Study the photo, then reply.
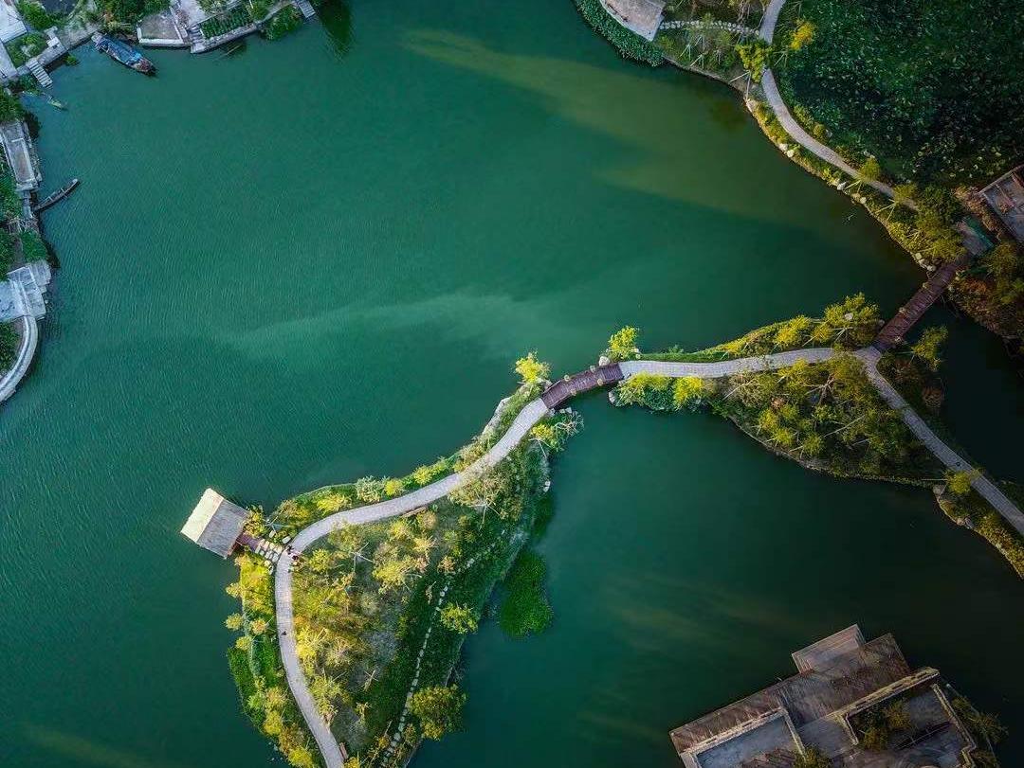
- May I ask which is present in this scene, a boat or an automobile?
boat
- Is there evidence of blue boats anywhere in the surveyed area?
Yes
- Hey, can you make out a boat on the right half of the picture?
No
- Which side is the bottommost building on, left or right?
right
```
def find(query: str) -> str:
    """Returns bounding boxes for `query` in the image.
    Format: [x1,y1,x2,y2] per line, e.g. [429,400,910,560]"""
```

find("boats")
[33,178,77,207]
[87,28,156,71]
[41,92,67,109]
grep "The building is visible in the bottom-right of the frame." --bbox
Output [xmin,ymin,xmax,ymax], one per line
[668,623,976,768]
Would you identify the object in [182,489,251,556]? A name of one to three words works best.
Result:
building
